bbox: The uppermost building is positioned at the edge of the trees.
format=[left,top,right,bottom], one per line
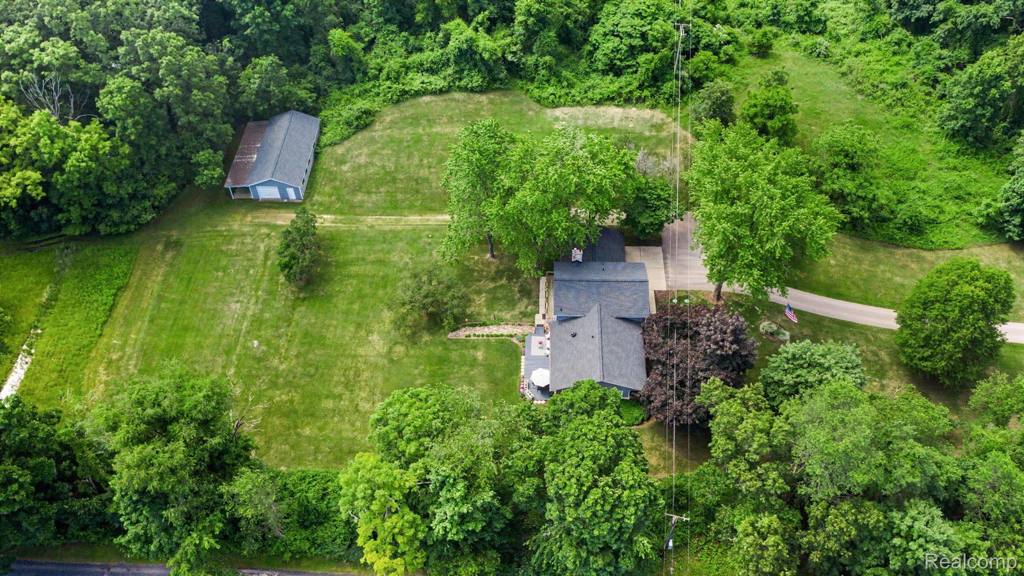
[225,111,319,201]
